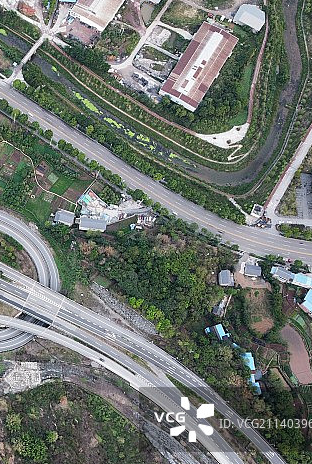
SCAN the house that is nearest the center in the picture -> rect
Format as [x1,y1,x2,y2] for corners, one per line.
[77,217,108,232]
